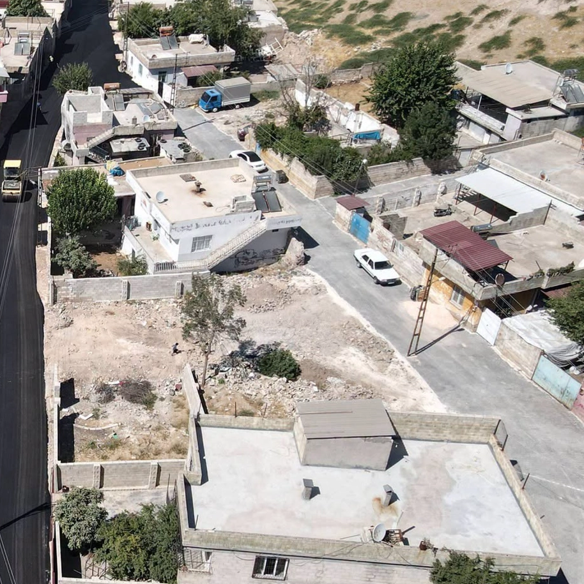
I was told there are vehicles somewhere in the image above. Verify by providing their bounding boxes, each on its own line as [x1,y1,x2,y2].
[435,205,456,217]
[199,79,258,110]
[228,151,272,172]
[350,249,405,283]
[0,163,24,206]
